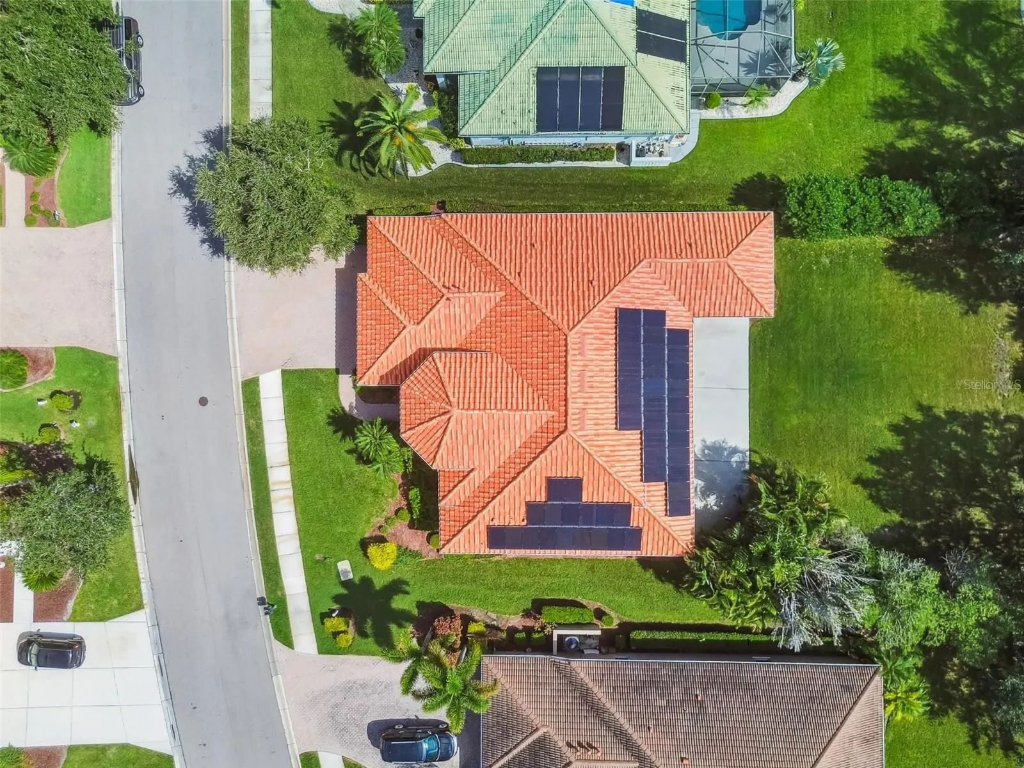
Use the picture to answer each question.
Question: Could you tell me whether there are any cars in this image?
Yes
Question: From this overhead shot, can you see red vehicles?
No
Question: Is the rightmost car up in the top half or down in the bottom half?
bottom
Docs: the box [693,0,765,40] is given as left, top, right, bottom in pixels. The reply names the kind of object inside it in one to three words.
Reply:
swimming pool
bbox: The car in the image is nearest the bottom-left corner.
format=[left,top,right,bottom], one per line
[15,632,88,672]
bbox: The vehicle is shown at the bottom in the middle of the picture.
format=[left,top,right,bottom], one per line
[378,723,460,768]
